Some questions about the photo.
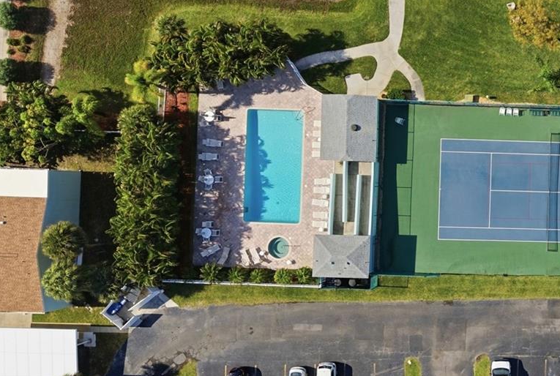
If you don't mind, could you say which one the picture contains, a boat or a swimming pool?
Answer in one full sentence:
This aerial view contains a swimming pool.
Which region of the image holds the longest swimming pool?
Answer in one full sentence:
The longest swimming pool is located in the center region of the scene.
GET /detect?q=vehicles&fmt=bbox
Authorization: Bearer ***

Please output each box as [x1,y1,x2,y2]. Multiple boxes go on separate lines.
[489,360,511,376]
[289,366,309,376]
[227,367,248,376]
[315,362,337,376]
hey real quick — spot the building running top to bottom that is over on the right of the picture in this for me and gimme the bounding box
[313,93,379,278]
